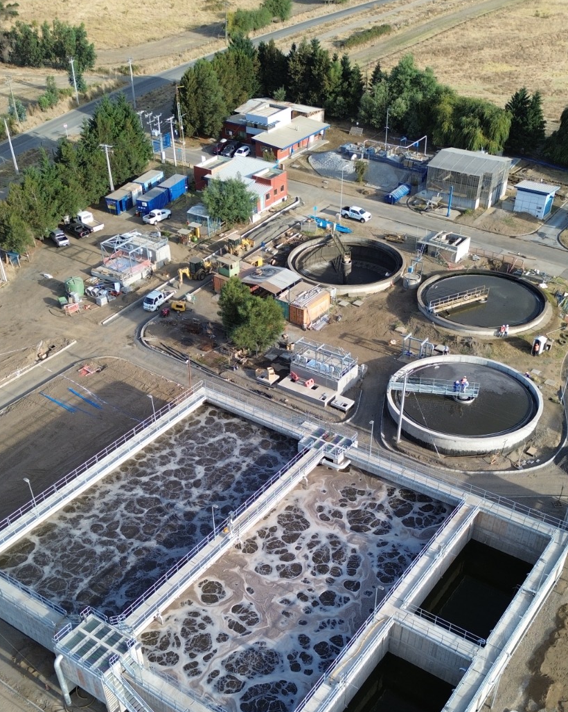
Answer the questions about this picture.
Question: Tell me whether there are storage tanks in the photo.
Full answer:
Yes, the frame does contain a storage tank.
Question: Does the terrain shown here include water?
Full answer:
Yes, there's water in this view.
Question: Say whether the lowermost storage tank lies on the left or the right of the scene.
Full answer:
The lowermost storage tank appears in the right half of the scene.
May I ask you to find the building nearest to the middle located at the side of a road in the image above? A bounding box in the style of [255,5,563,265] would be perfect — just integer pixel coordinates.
[214,256,245,280]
